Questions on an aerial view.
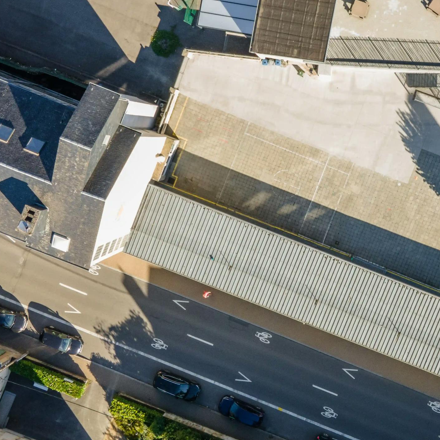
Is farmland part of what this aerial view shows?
No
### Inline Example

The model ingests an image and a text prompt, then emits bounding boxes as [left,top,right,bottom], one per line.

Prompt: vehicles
[311,430,342,440]
[34,322,88,360]
[149,362,205,400]
[213,392,269,431]
[0,303,31,334]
